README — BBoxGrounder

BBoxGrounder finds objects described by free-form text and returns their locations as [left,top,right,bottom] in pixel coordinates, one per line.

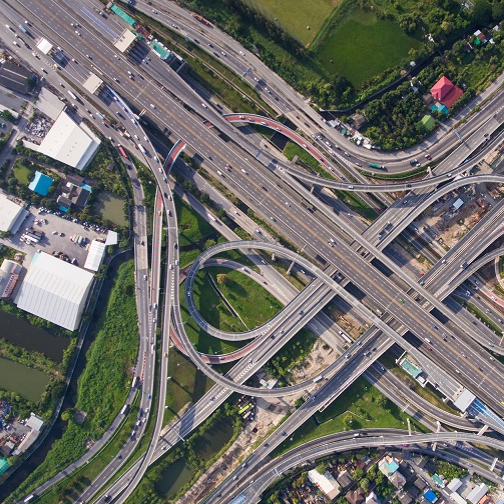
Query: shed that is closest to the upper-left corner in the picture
[1,65,42,95]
